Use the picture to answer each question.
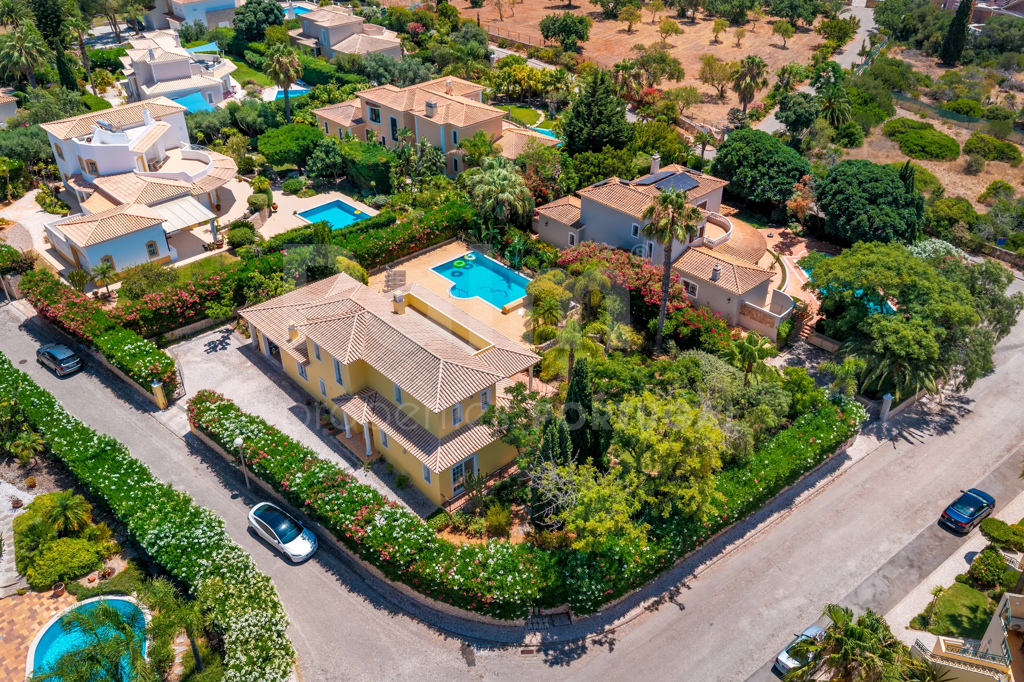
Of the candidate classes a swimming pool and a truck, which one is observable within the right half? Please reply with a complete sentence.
It is a swimming pool that can be seen within the right half.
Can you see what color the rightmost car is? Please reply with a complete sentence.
From above, the rightmost car appears blue.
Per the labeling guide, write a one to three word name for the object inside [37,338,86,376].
car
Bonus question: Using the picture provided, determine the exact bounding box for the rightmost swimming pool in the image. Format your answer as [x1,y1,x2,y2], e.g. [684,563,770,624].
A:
[792,250,892,318]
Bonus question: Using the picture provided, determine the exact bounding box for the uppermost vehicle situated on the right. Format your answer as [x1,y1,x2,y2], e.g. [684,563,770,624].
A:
[940,487,997,533]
